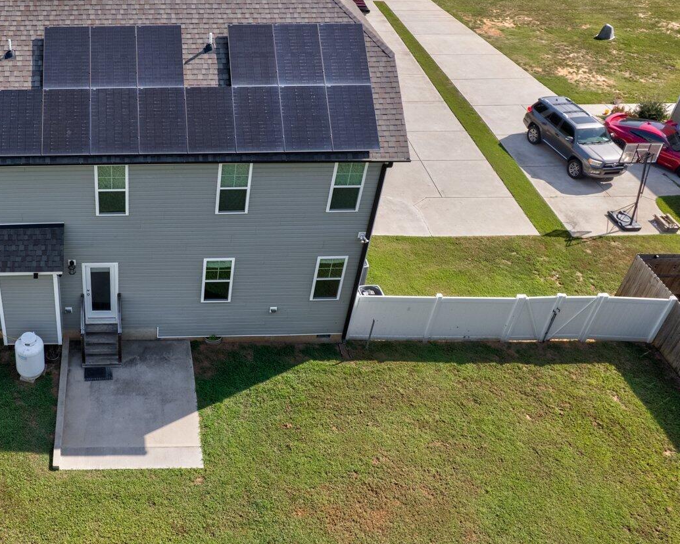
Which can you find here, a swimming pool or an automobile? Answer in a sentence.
I can see an automobile in this picture.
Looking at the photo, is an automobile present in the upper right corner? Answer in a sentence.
Yes, an automobile can be seen in the upper right corner.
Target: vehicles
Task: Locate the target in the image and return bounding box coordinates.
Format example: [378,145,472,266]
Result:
[525,96,635,185]
[607,107,680,169]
